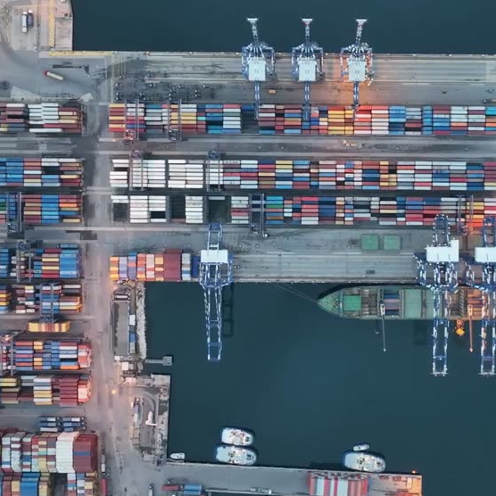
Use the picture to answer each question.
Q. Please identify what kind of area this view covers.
port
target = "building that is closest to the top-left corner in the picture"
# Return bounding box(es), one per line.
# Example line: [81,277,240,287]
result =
[52,17,71,50]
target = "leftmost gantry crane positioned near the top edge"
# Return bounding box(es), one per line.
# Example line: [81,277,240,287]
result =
[241,14,280,118]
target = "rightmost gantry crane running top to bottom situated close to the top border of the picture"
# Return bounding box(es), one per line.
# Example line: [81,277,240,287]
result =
[334,14,373,118]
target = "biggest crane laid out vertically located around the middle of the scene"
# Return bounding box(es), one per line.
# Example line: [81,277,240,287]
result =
[196,222,241,361]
